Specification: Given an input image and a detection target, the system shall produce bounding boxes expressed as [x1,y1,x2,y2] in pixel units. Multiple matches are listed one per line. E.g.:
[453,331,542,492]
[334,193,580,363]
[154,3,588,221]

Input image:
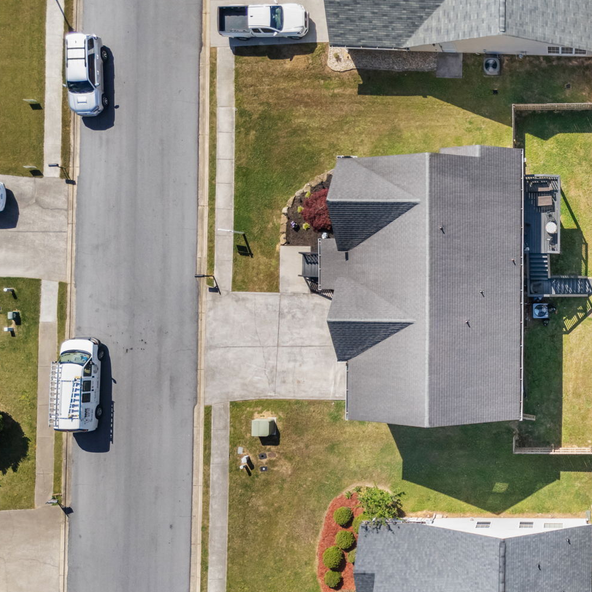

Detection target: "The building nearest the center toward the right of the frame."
[298,144,527,429]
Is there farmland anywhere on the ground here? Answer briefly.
No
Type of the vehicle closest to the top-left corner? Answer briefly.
car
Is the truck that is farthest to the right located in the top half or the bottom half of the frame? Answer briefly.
top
